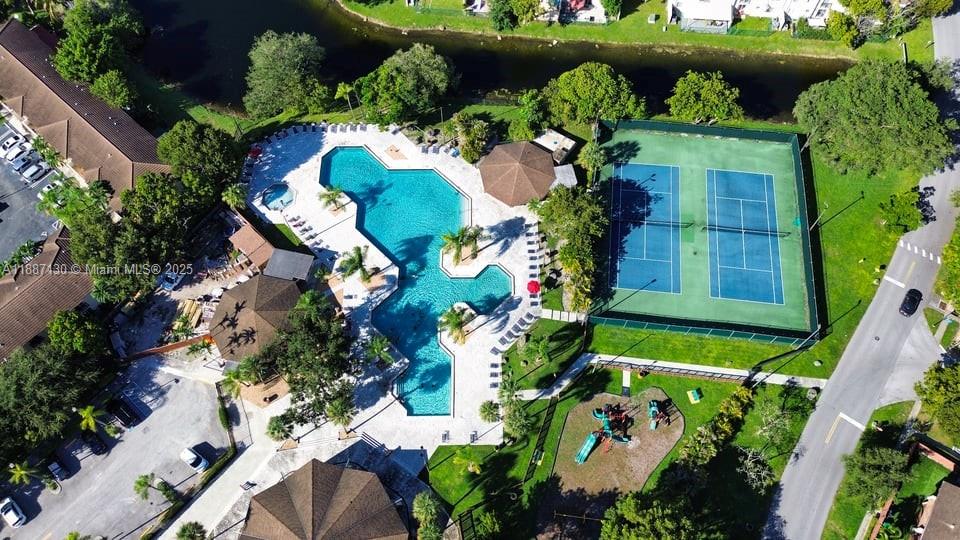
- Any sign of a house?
Yes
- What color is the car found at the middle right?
black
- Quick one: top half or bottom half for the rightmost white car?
bottom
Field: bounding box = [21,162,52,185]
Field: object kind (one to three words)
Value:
car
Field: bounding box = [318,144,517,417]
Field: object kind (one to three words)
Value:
swimming pool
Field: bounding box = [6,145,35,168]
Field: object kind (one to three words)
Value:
car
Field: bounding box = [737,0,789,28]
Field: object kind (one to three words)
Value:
house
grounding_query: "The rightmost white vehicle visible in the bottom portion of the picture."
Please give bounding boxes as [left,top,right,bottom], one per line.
[176,445,209,473]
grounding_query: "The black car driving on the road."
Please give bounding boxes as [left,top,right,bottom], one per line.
[901,287,925,317]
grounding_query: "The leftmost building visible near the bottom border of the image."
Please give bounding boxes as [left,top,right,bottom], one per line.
[234,458,414,540]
